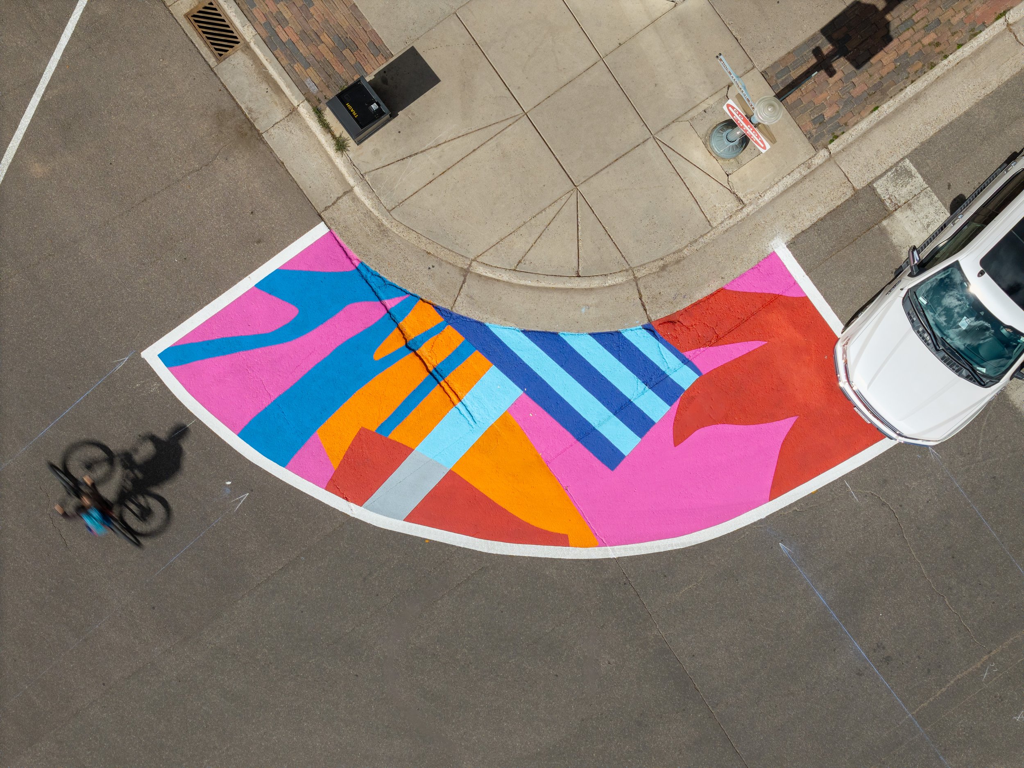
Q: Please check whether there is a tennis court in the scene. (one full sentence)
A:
No, there isn't any tennis court down there.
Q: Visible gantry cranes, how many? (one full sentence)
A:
The photo contains no gantry cranes.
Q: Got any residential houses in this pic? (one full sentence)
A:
No, no residential house is visible in the scene.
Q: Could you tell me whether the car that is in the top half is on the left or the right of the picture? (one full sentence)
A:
You can find the car that is in the top half on the right side of the picture.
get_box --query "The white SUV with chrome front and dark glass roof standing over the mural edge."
[832,146,1024,447]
